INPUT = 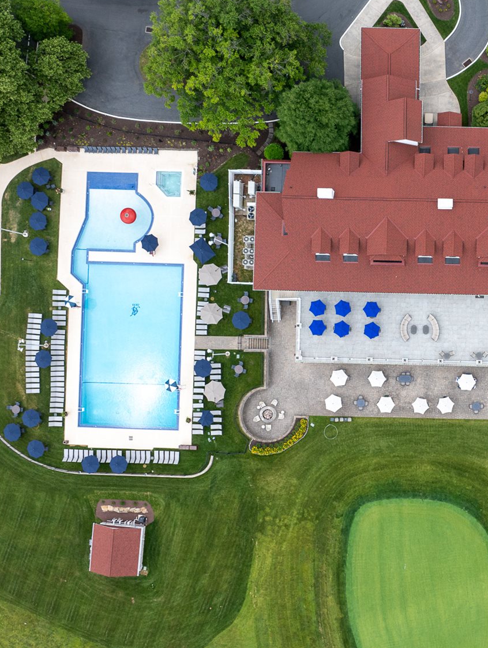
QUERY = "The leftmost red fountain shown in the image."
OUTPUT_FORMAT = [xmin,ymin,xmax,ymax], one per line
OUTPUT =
[122,208,139,224]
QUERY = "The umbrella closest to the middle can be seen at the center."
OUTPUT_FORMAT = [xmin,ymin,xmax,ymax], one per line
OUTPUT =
[232,310,251,329]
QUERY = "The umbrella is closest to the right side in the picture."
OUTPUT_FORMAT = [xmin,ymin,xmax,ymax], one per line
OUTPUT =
[455,373,476,391]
